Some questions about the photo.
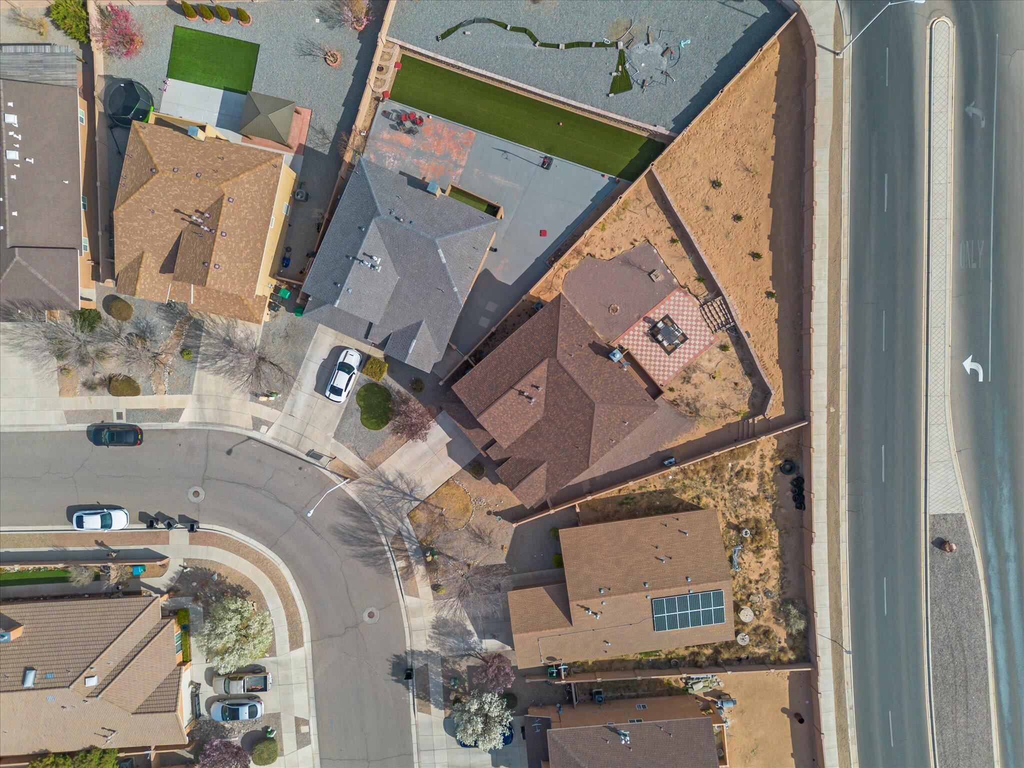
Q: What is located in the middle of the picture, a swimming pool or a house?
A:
house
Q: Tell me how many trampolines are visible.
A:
1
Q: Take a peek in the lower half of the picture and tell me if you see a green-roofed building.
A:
No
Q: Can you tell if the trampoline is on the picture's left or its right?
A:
left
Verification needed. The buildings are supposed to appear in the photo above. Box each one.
[524,695,733,768]
[437,293,668,509]
[113,106,298,325]
[0,80,98,323]
[508,508,735,669]
[302,158,503,373]
[0,592,197,761]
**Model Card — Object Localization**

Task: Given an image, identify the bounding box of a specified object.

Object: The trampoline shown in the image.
[90,66,154,128]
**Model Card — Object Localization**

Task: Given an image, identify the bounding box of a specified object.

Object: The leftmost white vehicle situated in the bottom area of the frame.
[73,509,132,534]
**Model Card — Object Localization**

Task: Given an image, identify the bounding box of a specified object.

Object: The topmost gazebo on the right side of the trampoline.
[240,91,302,151]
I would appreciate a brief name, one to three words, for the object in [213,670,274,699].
truck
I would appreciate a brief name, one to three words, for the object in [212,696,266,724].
car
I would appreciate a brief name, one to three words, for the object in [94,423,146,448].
car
